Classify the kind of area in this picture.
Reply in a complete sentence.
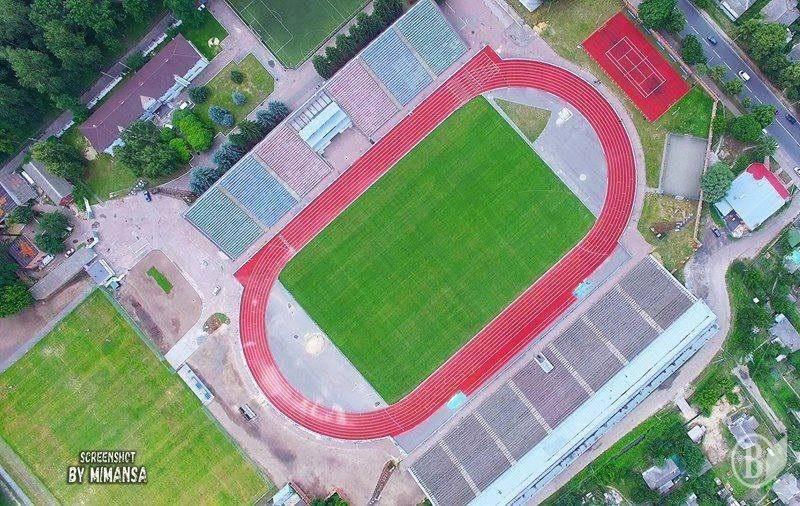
This image shows a sports ground.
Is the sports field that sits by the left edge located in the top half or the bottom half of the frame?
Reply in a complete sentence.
You can find the sports field that sits by the left edge in the bottom half.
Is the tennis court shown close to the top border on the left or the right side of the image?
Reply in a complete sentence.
The tennis court shown close to the top border appears in the right half of the scene.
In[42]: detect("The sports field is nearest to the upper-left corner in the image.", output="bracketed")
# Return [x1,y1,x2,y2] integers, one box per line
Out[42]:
[227,0,372,69]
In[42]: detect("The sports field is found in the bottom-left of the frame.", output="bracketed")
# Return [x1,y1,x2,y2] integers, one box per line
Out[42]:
[0,291,281,506]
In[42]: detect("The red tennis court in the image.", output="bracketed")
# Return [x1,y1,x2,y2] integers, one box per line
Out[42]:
[580,10,691,123]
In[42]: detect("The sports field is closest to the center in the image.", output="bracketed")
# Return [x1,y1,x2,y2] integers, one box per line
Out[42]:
[278,94,598,406]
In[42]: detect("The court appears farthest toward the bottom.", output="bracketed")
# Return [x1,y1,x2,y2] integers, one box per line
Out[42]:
[659,132,709,201]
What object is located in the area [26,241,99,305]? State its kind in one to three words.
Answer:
shed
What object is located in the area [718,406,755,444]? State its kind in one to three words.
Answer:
house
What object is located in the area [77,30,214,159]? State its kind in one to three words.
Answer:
building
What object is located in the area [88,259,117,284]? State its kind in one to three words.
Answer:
building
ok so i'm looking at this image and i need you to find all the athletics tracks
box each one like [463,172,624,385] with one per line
[235,46,638,442]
